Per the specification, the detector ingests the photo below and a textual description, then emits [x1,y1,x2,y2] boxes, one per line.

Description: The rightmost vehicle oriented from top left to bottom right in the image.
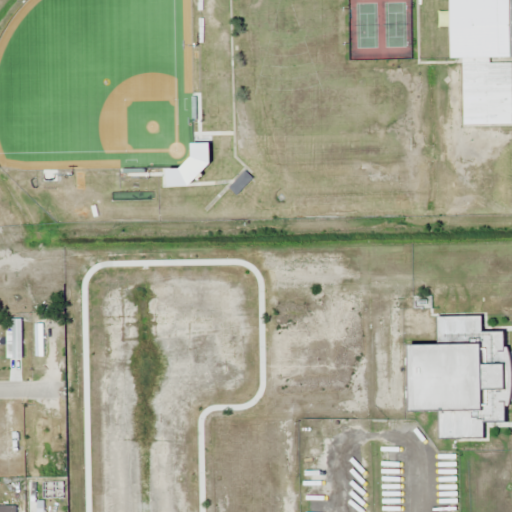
[412,426,431,446]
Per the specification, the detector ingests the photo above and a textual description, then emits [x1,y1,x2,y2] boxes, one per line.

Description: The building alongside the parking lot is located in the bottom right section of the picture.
[406,315,512,438]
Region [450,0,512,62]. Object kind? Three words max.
building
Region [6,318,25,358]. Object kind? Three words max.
house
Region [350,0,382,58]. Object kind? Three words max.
tennis court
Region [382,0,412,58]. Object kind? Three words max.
tennis court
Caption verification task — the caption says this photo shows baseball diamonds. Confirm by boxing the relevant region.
[0,0,193,168]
